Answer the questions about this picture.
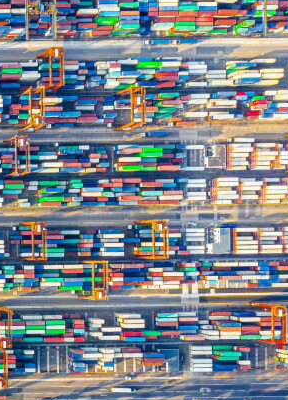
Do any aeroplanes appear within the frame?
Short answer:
No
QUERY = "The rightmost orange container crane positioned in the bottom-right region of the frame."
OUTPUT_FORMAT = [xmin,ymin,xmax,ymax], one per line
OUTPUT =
[250,302,288,346]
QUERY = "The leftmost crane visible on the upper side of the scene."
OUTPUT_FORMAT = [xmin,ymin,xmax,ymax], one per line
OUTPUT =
[5,136,30,180]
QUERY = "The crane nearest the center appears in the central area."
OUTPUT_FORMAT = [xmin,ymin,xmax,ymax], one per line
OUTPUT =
[136,219,167,260]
